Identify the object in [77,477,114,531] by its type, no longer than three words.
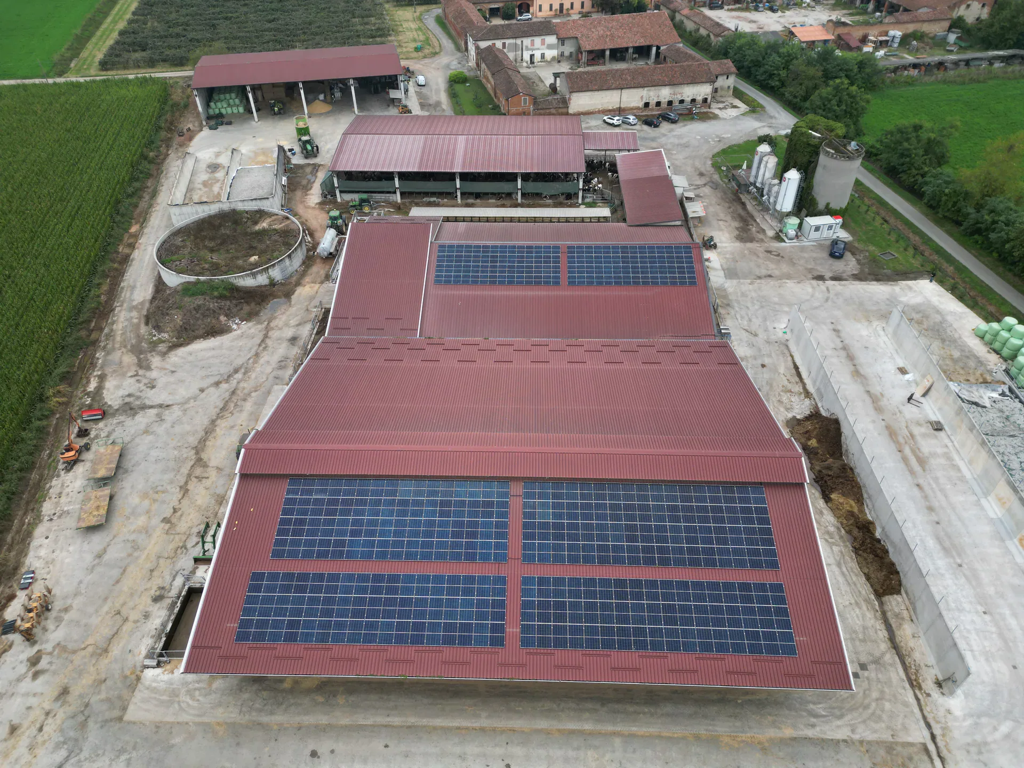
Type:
trailer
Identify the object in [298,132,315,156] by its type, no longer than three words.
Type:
work vehicle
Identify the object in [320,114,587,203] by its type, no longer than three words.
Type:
barn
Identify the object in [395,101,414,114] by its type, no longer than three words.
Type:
vehicle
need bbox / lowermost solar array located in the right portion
[519,576,797,656]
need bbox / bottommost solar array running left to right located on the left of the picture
[234,571,508,648]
